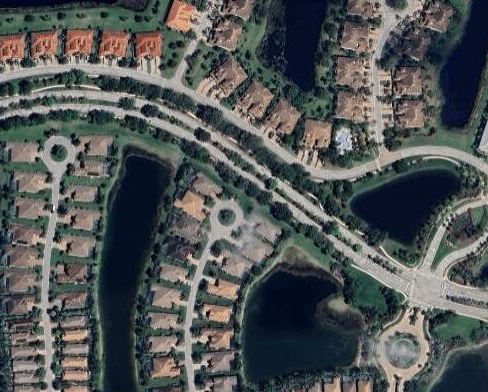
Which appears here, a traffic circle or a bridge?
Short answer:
traffic circle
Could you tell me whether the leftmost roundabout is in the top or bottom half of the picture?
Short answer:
bottom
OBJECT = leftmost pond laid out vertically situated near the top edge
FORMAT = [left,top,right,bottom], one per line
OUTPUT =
[286,0,330,92]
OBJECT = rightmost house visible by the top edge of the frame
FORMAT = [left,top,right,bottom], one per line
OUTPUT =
[416,0,458,33]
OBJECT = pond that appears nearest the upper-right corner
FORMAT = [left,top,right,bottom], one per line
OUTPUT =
[441,0,488,129]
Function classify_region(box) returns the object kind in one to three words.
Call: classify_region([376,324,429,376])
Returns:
roundabout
